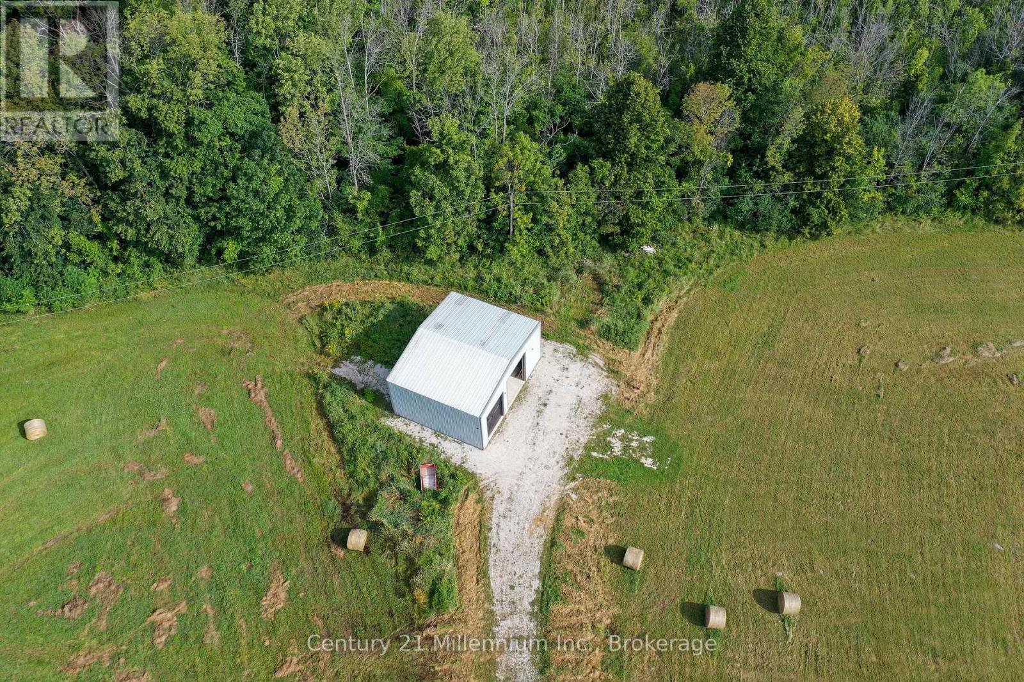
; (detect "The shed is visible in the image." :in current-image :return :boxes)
[385,292,541,451]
